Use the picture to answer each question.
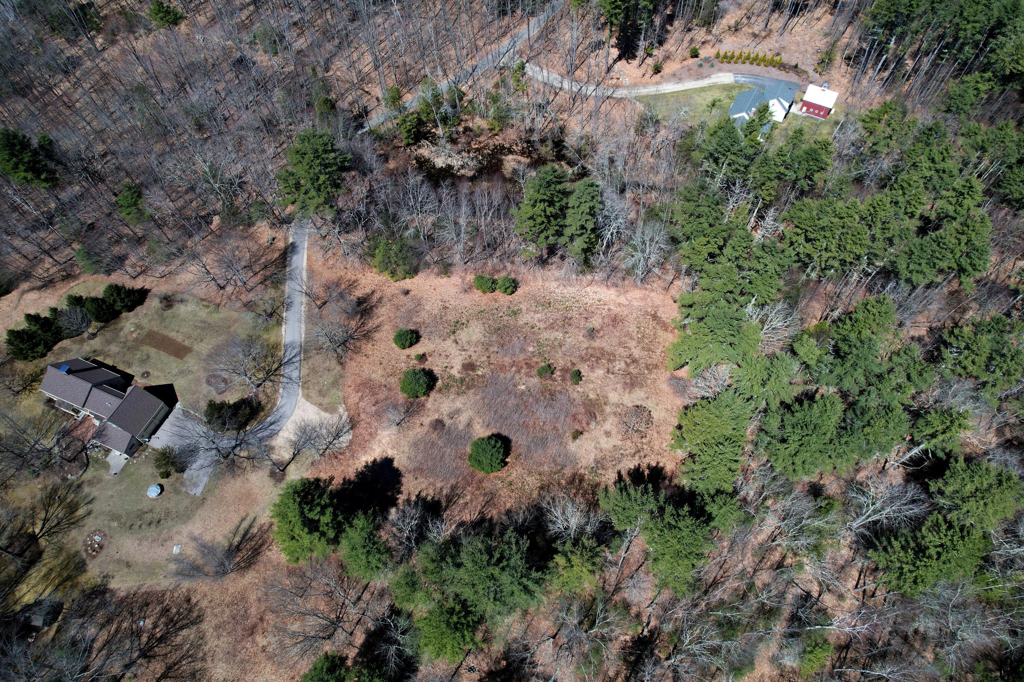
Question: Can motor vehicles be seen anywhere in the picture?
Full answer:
No, the photo shows no motor vehicle.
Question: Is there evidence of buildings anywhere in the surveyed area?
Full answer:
Yes, looking at the shot, I can spot a building.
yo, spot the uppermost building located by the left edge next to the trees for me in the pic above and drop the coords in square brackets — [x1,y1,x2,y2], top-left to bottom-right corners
[41,357,171,457]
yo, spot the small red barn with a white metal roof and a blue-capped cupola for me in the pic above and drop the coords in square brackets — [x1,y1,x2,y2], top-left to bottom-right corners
[799,83,839,121]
